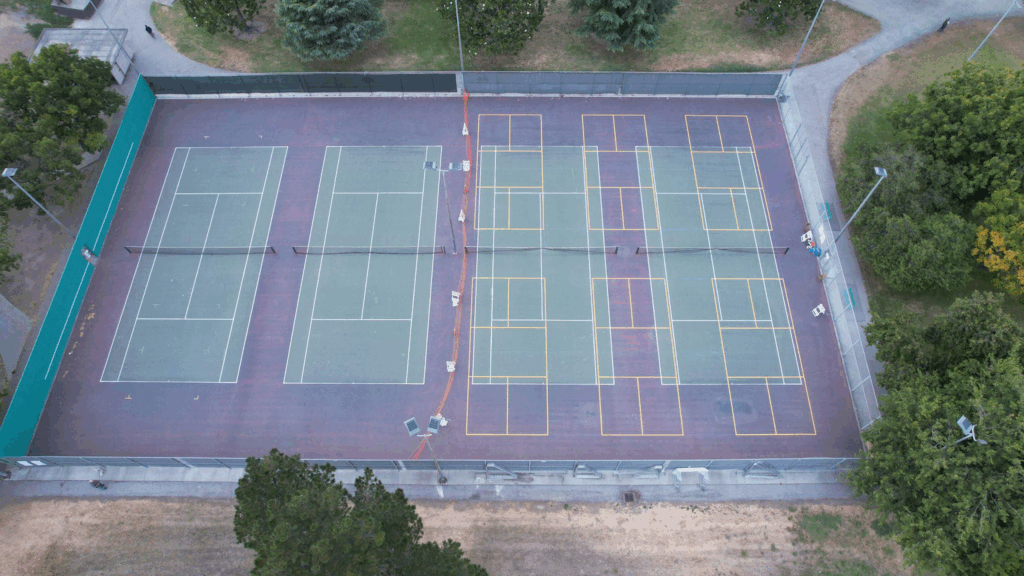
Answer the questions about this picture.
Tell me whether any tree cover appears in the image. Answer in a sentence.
Yes, some tree cover is visible.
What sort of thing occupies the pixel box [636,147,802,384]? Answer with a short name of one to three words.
tennis court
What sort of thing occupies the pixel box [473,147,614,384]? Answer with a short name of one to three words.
tennis court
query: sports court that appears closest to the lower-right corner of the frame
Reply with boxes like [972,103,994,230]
[710,278,817,436]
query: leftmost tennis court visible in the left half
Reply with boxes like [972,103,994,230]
[99,147,289,397]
